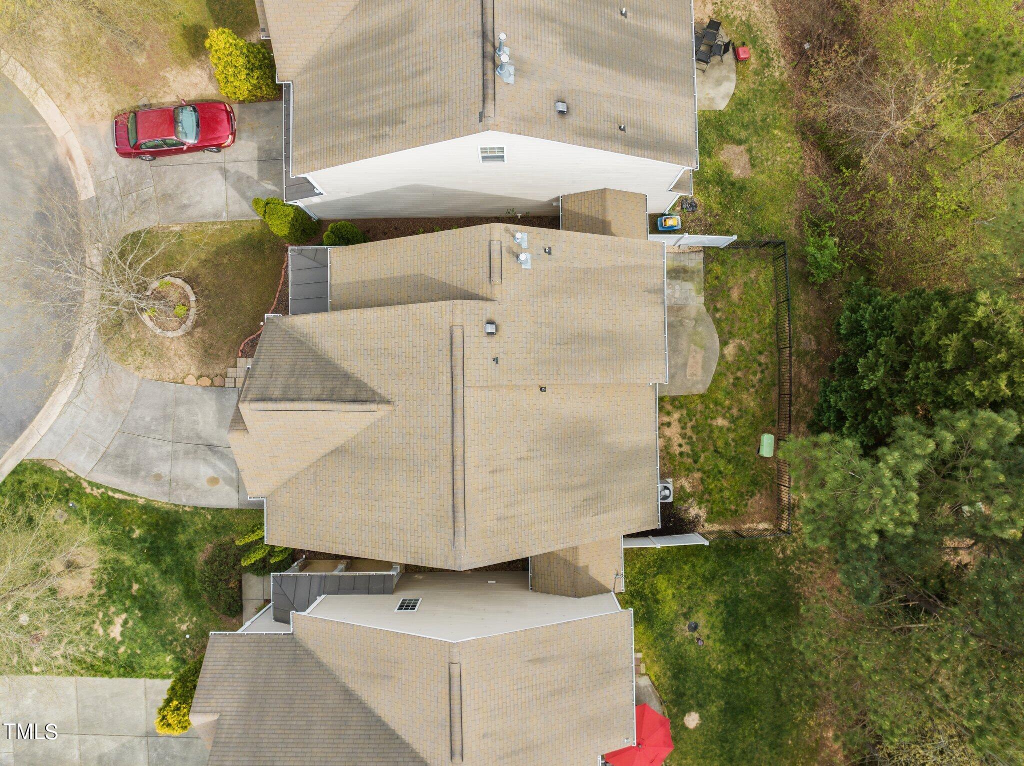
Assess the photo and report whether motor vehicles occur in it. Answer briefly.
Yes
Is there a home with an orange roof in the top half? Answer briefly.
No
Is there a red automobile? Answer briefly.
Yes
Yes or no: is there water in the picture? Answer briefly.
No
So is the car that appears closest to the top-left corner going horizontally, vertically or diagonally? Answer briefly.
horizontally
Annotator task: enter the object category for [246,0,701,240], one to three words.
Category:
house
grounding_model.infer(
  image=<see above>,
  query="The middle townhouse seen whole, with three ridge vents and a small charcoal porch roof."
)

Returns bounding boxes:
[225,223,671,569]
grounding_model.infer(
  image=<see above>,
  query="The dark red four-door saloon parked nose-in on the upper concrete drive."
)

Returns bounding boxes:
[108,98,236,163]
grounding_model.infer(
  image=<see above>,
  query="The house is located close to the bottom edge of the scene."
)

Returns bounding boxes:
[184,546,639,766]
